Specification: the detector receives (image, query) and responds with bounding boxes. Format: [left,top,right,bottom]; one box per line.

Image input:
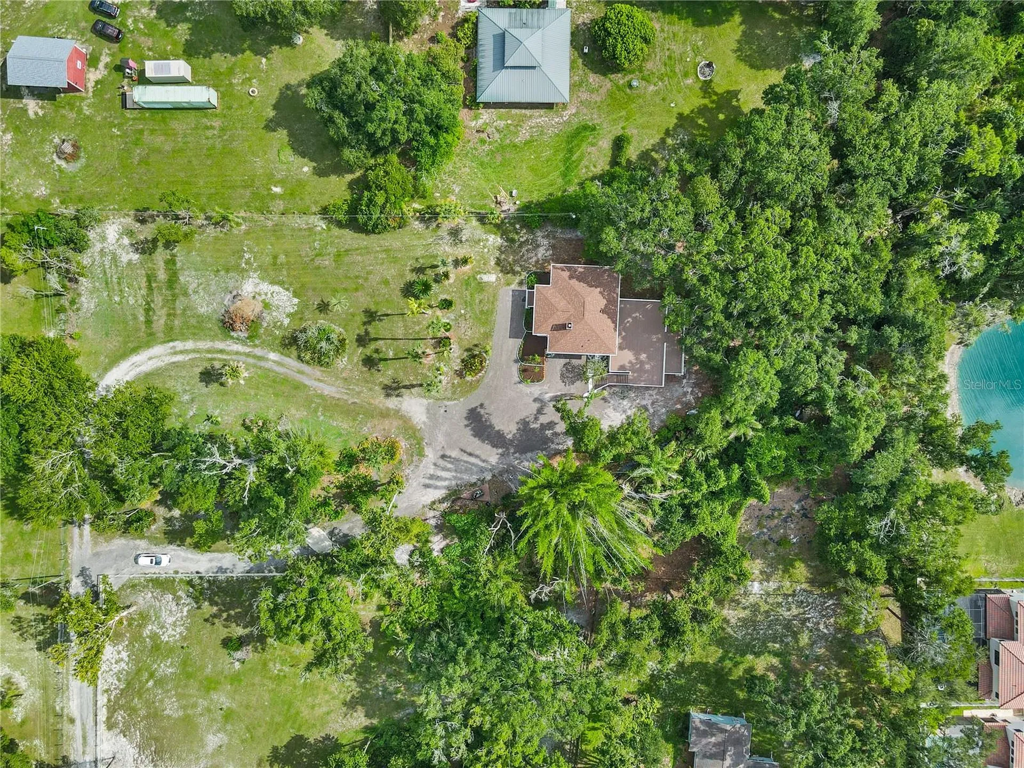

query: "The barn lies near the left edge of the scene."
[7,40,87,96]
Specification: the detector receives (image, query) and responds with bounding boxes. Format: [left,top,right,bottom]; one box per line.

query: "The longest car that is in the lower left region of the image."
[135,552,172,567]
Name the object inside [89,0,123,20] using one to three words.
car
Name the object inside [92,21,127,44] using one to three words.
car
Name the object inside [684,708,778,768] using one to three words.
house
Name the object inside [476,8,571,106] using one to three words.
house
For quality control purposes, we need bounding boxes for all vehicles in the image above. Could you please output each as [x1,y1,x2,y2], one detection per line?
[135,552,172,567]
[89,0,123,20]
[92,21,127,44]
